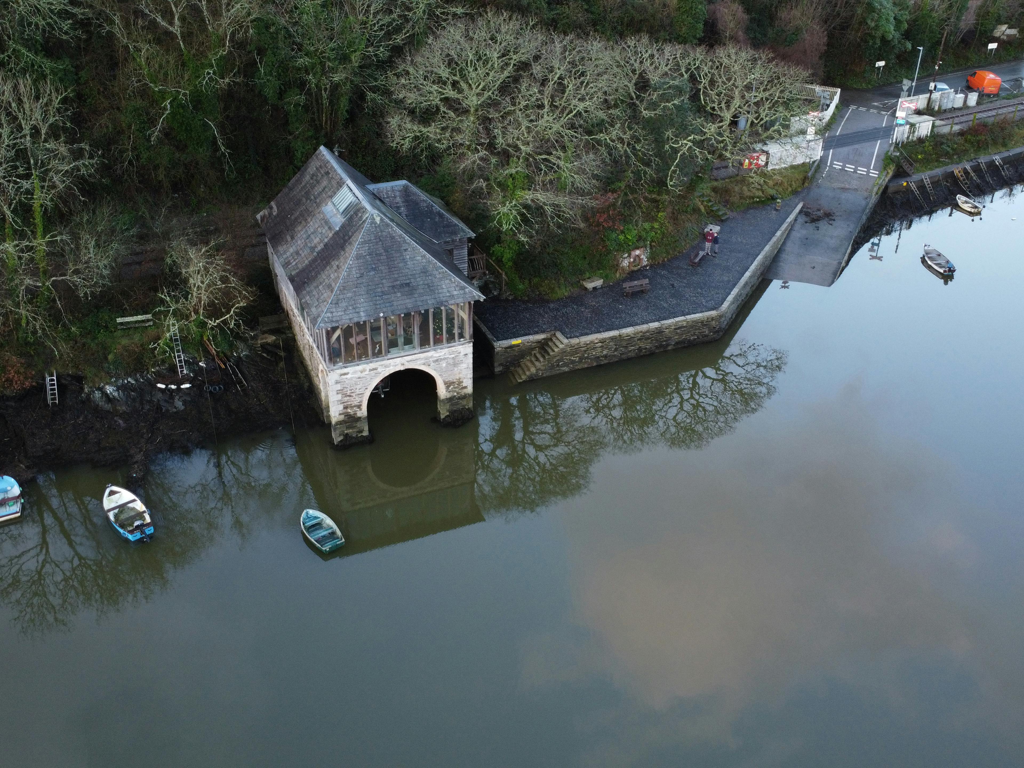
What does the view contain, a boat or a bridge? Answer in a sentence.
Looking from above, you can make out a boat.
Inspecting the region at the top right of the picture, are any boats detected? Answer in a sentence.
Yes, there is a boat at the top right of the picture.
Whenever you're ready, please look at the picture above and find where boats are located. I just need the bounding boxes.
[299,509,348,559]
[918,244,958,280]
[0,473,26,523]
[103,484,156,543]
[957,194,987,214]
